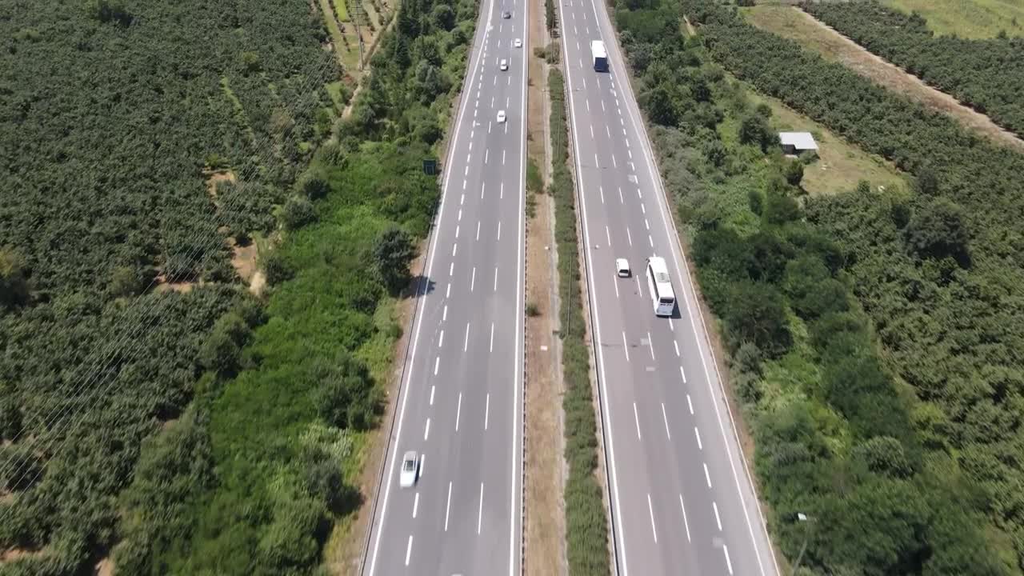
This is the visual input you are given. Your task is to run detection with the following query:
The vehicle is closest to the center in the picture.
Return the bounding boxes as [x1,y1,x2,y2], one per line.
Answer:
[617,260,630,276]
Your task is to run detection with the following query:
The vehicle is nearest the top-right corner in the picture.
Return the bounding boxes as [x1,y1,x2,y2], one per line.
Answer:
[593,43,607,70]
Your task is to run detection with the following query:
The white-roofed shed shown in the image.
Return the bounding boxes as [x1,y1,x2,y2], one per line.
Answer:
[779,129,818,158]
